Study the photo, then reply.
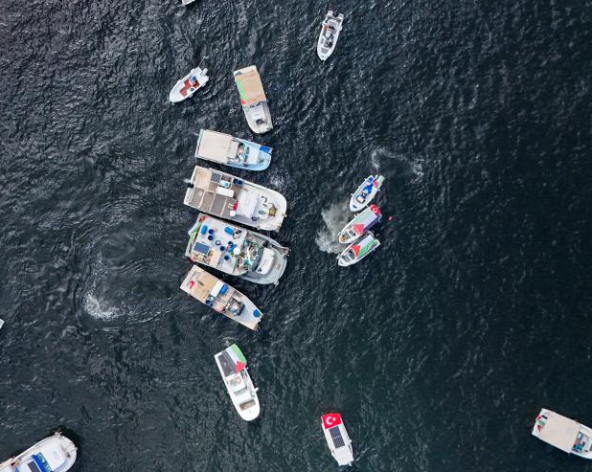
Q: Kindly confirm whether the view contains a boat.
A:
Yes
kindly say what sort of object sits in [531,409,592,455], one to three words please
boat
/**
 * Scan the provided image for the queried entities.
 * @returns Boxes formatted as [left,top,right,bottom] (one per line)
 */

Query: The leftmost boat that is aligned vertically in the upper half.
[232,65,271,134]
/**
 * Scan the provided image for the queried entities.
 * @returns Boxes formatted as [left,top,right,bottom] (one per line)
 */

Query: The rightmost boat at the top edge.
[319,11,344,60]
